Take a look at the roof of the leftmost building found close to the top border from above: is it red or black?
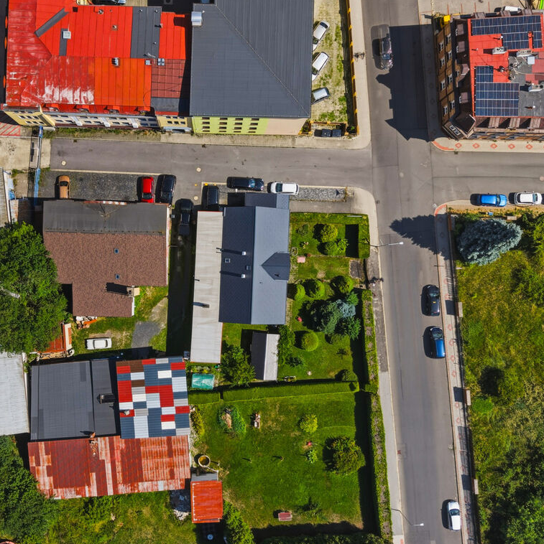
red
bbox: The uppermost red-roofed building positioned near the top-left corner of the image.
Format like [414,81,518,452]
[1,0,192,137]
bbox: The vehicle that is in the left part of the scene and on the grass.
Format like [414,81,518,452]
[86,338,111,350]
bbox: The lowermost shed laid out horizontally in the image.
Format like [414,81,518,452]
[28,434,191,500]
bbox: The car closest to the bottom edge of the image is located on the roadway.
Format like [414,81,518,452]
[445,502,460,529]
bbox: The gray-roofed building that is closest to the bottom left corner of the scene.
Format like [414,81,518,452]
[31,358,119,440]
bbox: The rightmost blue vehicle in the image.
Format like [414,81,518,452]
[478,193,505,206]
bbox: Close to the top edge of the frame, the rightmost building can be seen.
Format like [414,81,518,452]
[430,6,544,146]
